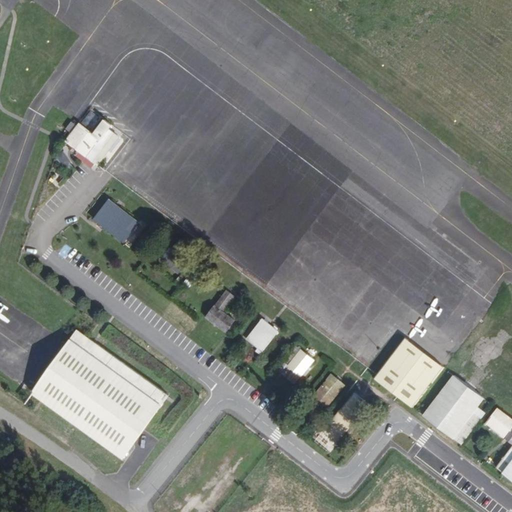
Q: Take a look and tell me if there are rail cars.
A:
No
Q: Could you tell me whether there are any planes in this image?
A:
Yes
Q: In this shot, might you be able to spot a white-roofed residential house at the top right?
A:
No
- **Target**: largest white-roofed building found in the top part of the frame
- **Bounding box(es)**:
[66,110,124,168]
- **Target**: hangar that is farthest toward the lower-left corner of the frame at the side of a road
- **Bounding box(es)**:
[32,330,168,459]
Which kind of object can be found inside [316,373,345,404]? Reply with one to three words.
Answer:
house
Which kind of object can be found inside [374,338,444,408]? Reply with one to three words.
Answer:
hangar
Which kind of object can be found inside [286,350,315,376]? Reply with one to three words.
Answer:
house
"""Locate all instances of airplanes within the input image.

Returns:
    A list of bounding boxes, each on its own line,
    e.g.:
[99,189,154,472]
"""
[410,318,426,338]
[426,298,442,318]
[0,306,10,322]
